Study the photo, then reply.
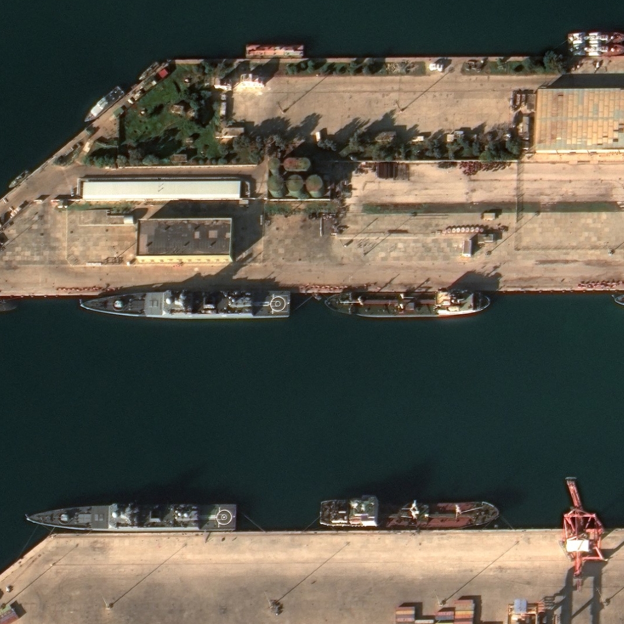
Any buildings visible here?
Yes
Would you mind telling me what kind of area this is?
port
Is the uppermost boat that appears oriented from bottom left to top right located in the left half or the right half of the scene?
left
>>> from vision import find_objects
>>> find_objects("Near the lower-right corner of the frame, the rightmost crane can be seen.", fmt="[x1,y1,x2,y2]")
[562,479,606,596]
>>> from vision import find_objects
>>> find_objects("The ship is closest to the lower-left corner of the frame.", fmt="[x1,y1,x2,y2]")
[26,502,237,532]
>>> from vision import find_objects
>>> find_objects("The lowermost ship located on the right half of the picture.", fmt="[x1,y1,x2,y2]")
[320,496,500,530]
